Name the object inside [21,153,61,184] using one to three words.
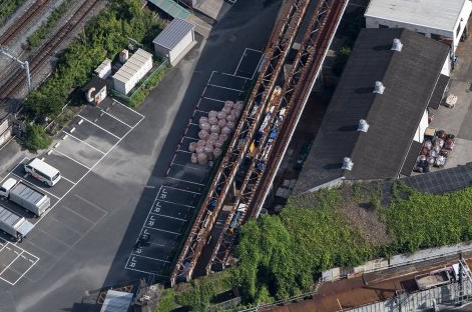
van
